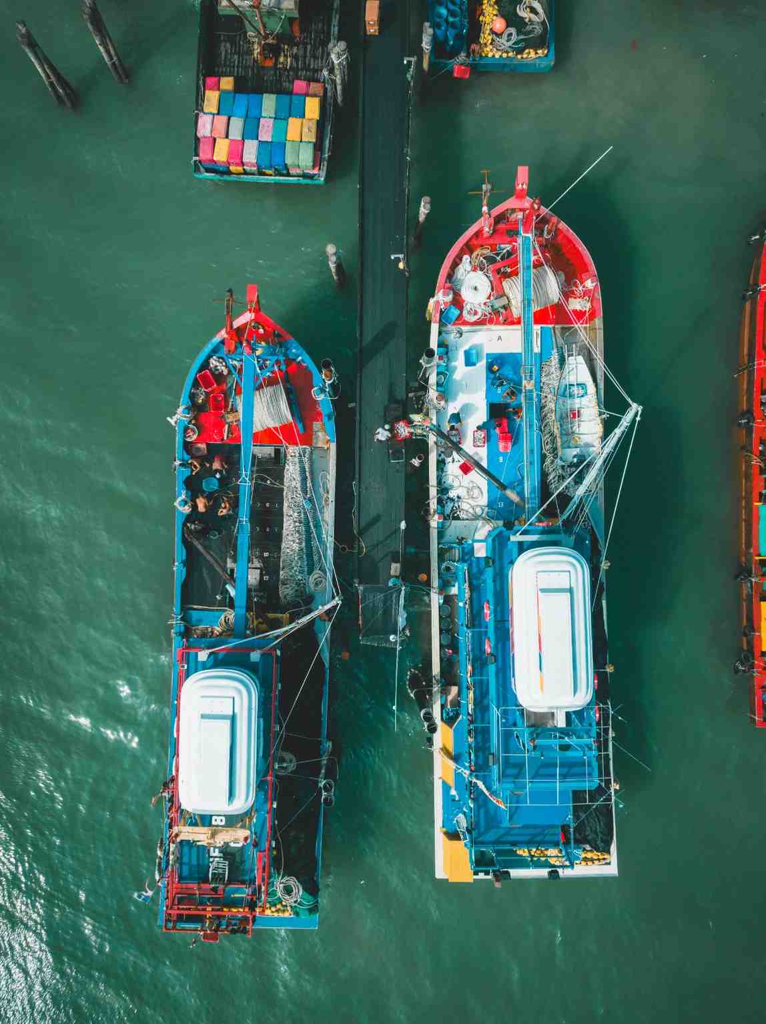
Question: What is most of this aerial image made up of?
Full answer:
What you mostly see from above here is water.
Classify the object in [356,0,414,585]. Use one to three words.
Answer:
pier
